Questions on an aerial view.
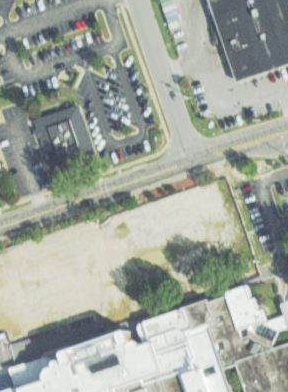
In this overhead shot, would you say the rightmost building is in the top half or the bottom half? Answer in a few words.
top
